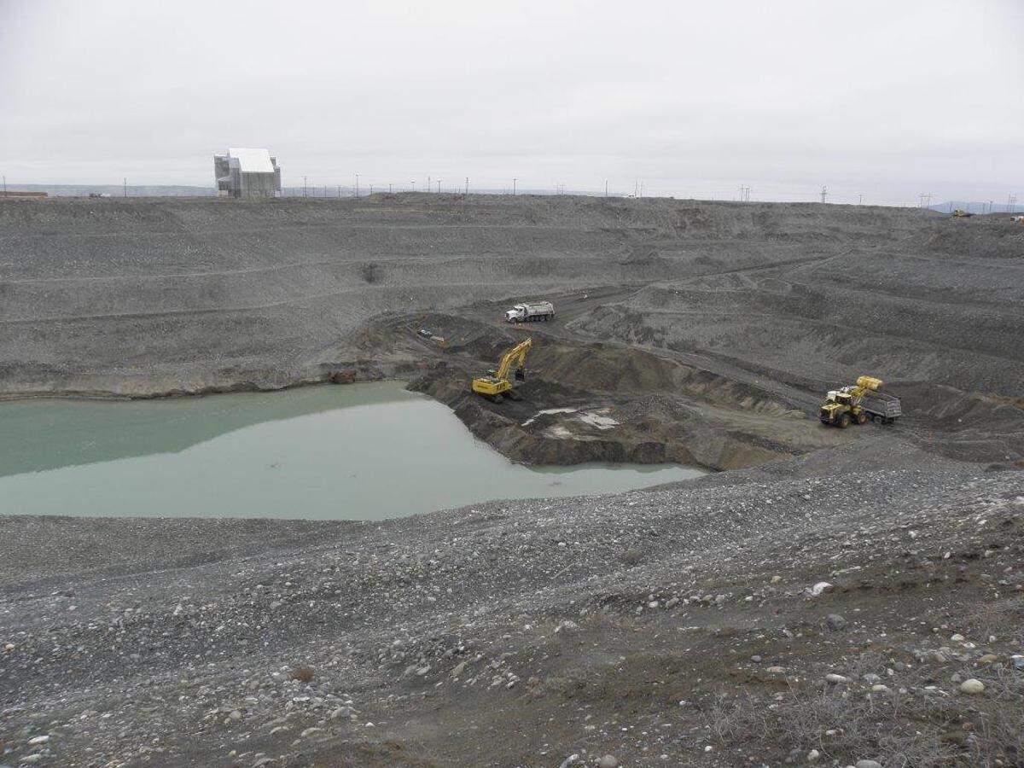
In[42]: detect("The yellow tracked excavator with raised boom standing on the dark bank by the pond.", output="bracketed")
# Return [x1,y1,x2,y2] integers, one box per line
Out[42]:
[472,336,531,401]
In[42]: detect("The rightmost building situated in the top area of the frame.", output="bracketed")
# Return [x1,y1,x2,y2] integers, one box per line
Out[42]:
[213,149,282,198]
